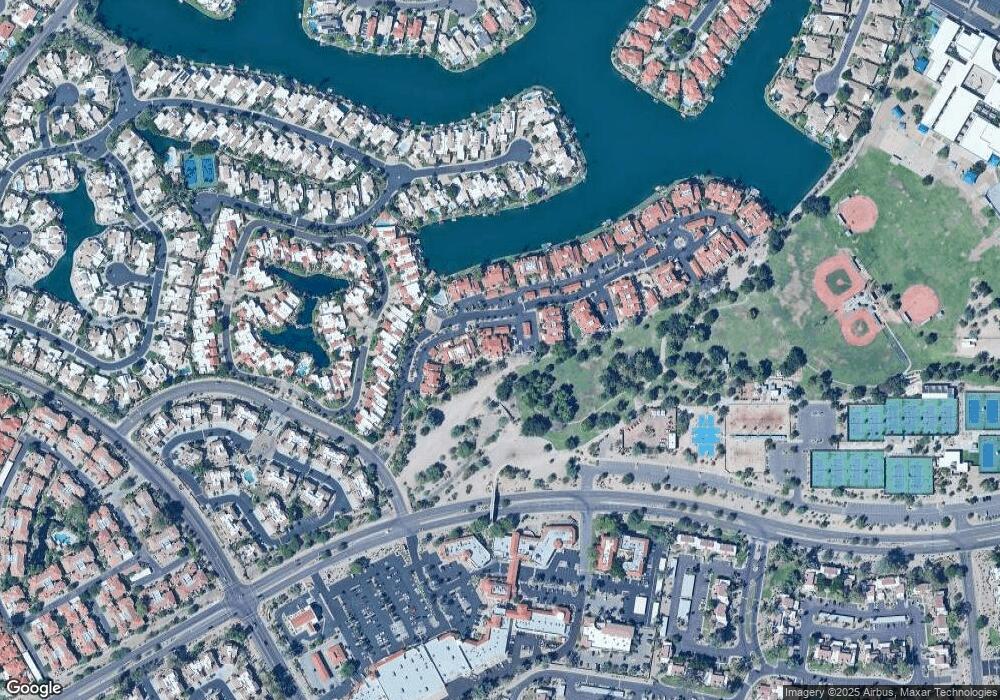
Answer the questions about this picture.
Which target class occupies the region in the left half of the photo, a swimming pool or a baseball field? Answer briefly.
swimming pool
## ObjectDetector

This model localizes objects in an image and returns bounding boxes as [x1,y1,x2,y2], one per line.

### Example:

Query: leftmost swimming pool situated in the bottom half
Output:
[51,527,75,549]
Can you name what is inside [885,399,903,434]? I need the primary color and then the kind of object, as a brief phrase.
blue tennis court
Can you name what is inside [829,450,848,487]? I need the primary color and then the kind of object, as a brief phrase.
blue tennis court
